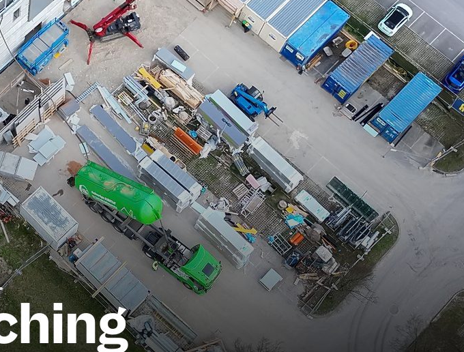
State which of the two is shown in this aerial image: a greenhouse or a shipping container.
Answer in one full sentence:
Looking from above, you can make out a shipping container.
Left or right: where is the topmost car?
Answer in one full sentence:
The topmost car appears in the right half of the scene.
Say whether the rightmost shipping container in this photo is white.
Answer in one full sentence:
No, the color of the rightmost shipping container is blue.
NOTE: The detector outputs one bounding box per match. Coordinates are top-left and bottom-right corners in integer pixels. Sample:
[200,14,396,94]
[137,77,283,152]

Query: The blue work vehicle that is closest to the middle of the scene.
[227,79,284,128]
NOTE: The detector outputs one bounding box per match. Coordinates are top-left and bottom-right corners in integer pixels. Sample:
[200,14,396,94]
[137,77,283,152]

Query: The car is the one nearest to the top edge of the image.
[378,0,416,38]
